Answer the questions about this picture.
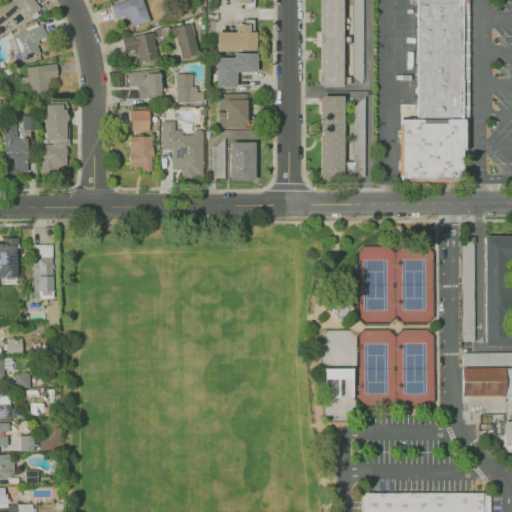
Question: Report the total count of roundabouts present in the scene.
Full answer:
The count of roundabouts is 0.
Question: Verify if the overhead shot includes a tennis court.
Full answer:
Yes, the frame does contain a tennis court.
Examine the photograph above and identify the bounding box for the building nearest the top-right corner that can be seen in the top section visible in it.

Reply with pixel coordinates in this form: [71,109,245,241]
[416,0,467,118]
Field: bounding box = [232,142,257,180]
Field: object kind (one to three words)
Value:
house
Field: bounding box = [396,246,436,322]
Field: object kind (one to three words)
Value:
tennis court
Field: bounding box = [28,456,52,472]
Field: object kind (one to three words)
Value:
swimming pool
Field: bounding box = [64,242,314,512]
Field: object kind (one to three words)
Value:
sports field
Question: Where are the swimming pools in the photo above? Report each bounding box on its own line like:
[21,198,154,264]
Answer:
[0,42,10,62]
[175,109,198,122]
[28,456,52,472]
[184,64,205,84]
[29,312,46,320]
[33,490,52,498]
